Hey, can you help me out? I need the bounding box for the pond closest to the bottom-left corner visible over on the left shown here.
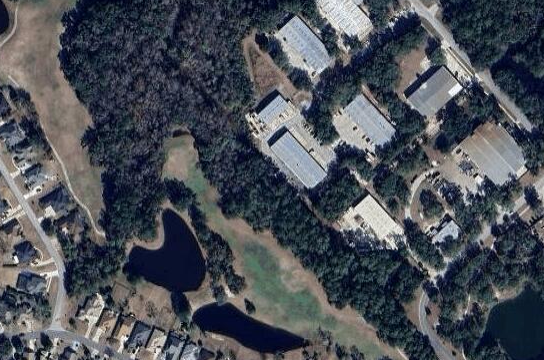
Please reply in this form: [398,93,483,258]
[120,206,208,295]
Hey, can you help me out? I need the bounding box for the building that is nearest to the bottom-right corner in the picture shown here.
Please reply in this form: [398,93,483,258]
[430,220,459,247]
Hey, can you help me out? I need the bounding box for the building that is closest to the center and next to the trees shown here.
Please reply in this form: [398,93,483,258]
[271,130,326,189]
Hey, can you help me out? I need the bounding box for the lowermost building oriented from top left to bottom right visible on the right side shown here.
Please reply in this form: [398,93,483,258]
[354,194,404,247]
